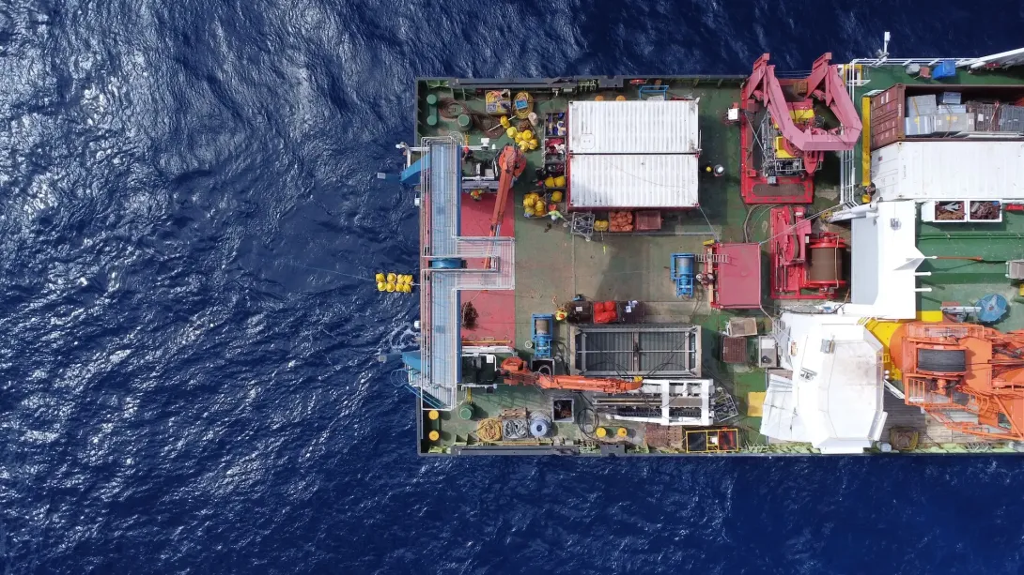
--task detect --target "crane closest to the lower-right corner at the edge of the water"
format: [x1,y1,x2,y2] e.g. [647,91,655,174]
[887,322,1024,442]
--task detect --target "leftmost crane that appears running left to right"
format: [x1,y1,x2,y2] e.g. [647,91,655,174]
[492,356,644,398]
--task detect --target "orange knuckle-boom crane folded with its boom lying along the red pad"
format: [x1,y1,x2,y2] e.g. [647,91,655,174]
[482,142,526,270]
